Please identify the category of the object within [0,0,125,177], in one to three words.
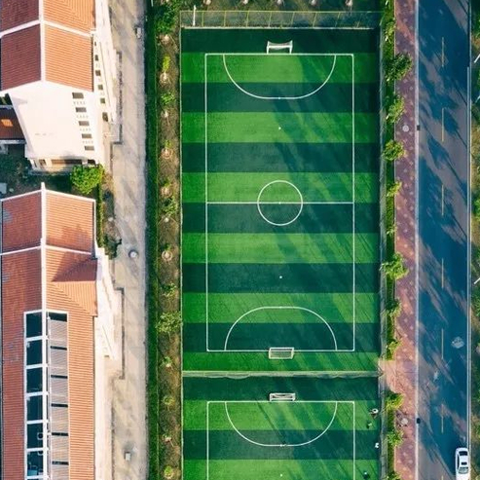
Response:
building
